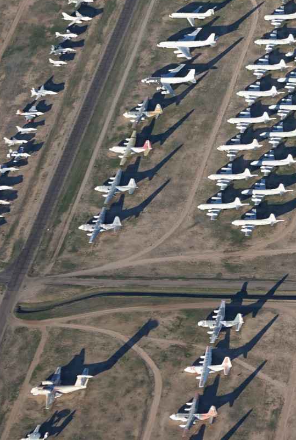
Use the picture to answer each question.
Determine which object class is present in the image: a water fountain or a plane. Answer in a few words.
plane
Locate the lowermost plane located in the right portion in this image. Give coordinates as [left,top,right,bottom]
[169,392,219,435]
